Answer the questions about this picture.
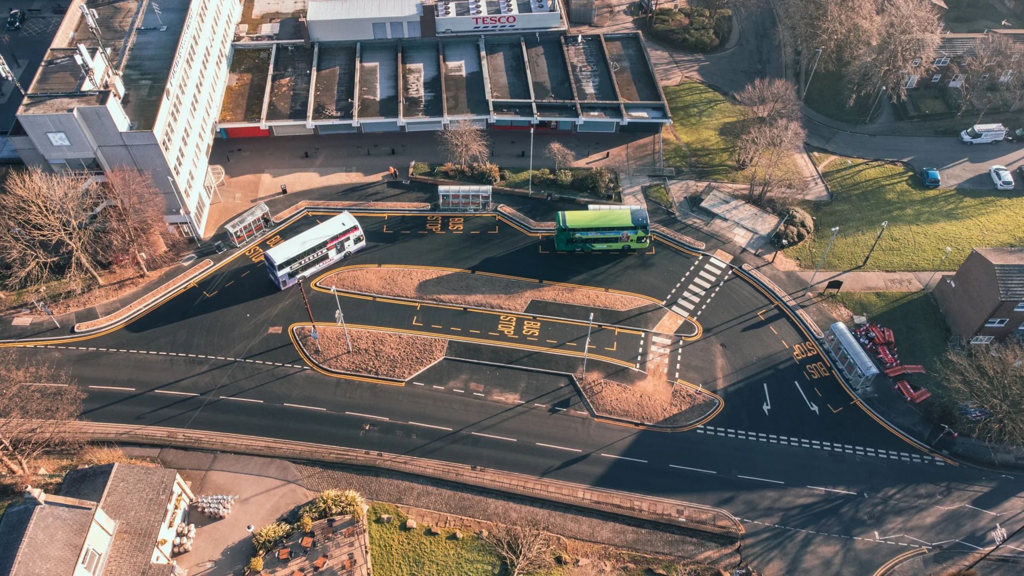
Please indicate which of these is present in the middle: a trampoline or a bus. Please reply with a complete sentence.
There is a bus in the middle.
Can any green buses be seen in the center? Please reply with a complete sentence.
Yes, you'll find a green bus in the center.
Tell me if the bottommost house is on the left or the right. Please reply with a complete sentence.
The bottommost house sits on the left side.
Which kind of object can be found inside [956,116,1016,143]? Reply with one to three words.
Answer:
vehicle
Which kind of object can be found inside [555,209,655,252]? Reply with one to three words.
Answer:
bus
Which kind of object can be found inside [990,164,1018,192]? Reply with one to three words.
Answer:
car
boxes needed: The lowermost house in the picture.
[0,459,197,576]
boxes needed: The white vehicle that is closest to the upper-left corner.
[258,209,370,291]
